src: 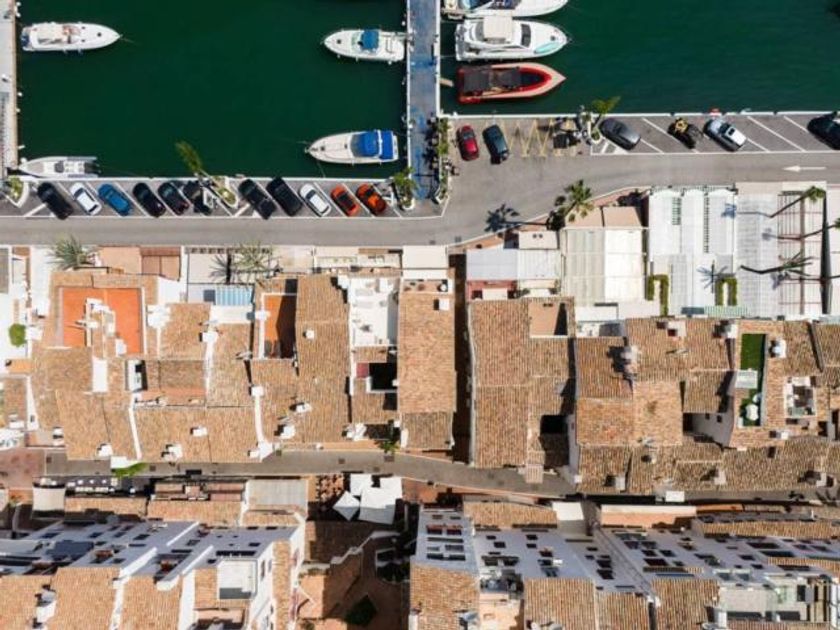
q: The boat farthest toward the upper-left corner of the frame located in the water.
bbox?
[24,21,122,56]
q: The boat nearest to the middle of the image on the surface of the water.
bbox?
[303,130,402,168]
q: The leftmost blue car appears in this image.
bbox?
[101,184,133,217]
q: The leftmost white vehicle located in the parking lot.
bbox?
[73,185,102,215]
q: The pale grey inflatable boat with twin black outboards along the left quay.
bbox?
[21,156,102,177]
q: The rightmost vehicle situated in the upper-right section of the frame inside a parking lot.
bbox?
[809,116,840,147]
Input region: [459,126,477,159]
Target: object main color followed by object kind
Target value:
red car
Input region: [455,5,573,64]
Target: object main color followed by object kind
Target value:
white boat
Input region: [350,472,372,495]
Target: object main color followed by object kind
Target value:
white umbrella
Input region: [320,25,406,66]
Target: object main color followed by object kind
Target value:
white boat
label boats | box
[303,130,402,168]
[458,65,566,100]
[441,0,564,18]
[320,25,406,66]
[21,156,102,177]
[24,21,122,56]
[455,5,573,64]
